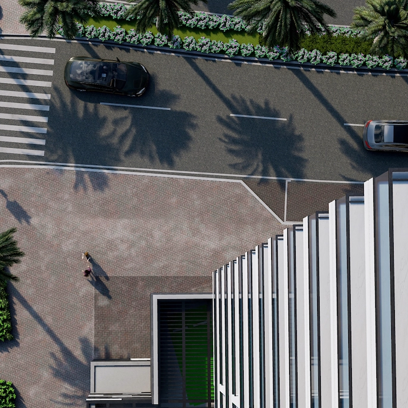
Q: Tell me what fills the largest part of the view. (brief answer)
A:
paved ground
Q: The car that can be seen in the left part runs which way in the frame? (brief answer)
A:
from left to right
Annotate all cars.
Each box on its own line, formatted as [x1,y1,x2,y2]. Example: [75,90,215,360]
[64,58,149,99]
[362,120,408,152]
